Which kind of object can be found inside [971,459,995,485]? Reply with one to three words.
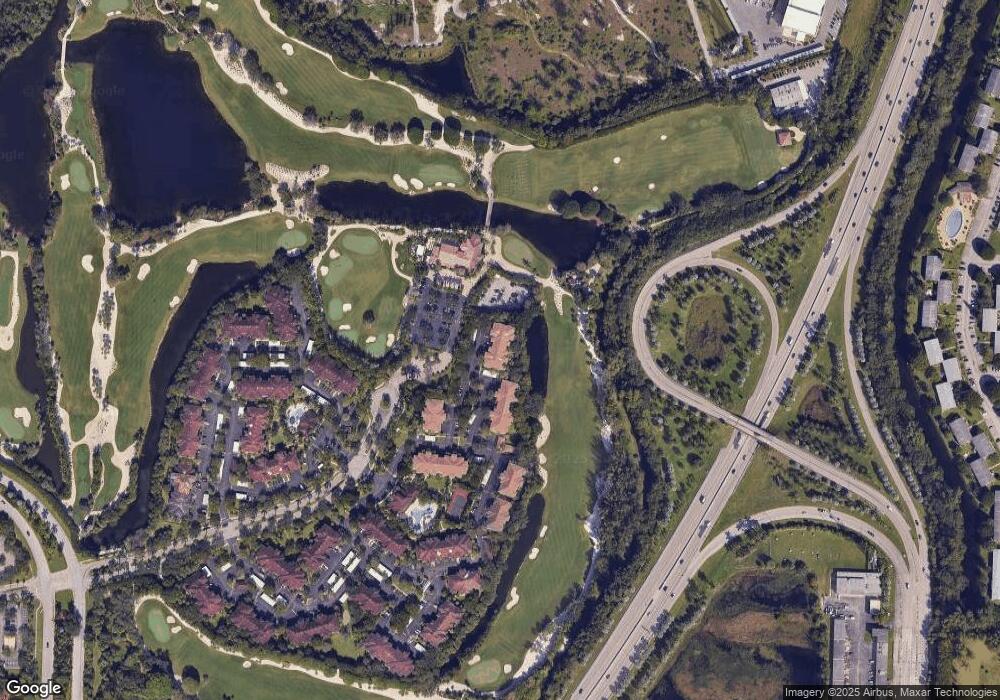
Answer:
house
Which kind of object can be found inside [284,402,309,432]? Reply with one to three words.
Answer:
swimming pool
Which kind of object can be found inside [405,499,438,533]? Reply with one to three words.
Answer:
swimming pool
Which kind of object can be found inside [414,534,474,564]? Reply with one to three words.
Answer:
building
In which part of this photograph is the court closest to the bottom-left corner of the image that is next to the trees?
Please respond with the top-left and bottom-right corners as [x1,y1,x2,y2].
[444,485,472,516]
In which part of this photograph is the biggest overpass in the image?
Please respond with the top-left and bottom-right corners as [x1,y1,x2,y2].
[678,388,857,485]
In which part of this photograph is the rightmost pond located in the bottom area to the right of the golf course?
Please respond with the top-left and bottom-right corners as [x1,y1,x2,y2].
[779,647,823,699]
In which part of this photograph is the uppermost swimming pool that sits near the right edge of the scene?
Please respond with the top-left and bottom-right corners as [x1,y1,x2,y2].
[938,194,979,248]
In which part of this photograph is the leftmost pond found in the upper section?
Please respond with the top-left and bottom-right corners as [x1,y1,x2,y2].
[373,43,479,100]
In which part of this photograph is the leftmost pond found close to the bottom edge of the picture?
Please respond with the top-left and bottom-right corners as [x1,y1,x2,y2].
[440,493,545,675]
